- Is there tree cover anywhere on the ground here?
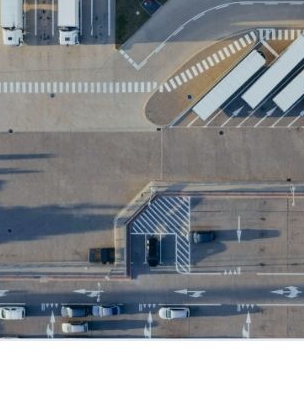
No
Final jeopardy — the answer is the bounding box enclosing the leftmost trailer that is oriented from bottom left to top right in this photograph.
[192,51,266,121]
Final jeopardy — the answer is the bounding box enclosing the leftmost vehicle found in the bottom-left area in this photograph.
[0,306,25,320]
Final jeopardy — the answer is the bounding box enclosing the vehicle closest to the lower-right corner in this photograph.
[160,306,188,320]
